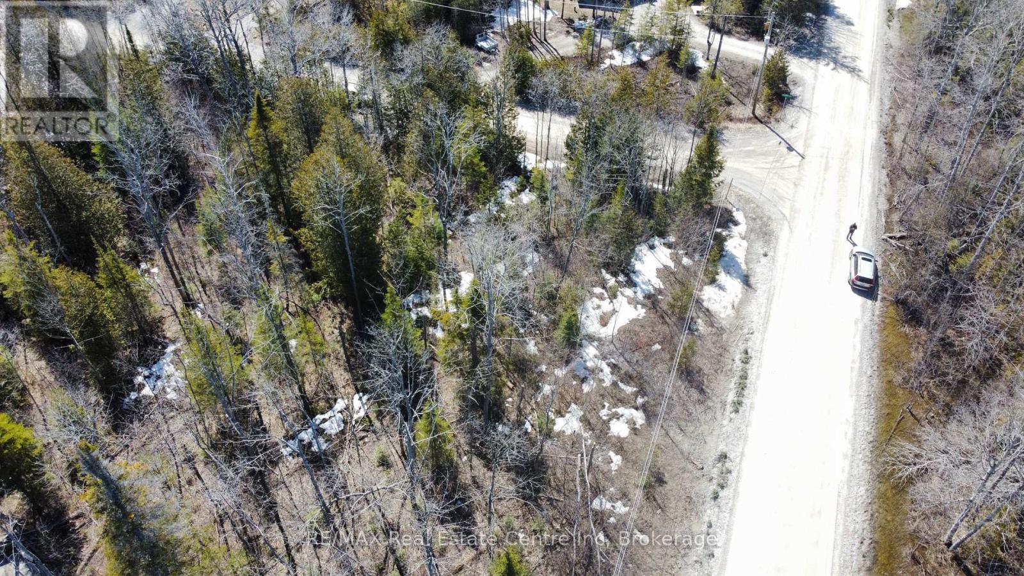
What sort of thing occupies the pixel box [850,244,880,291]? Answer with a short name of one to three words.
car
